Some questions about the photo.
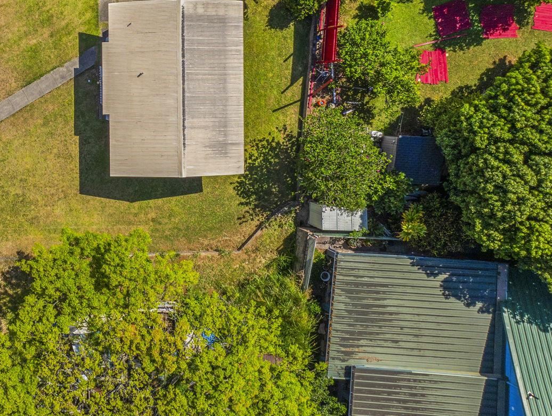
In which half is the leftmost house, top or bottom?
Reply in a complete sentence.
The leftmost house sits in the top half of the picture.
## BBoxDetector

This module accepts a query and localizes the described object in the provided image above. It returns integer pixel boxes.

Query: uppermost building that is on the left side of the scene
[101,0,244,178]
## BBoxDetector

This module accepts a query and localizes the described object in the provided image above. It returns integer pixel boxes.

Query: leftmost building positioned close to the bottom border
[324,252,508,416]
